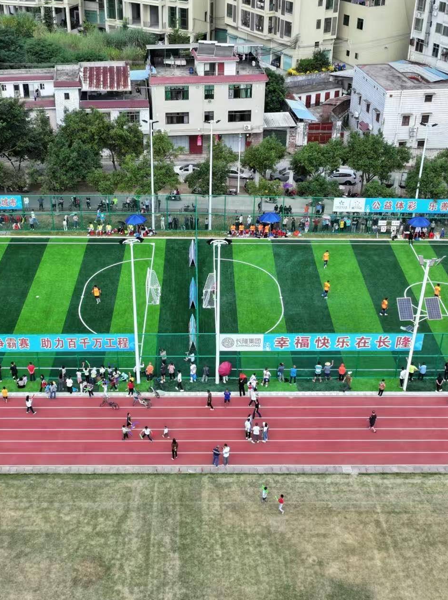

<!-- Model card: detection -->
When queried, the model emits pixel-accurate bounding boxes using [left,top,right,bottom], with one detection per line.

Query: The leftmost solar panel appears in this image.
[395,297,412,321]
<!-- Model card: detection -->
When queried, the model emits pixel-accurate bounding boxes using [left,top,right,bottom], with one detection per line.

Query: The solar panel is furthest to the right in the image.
[425,297,443,321]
